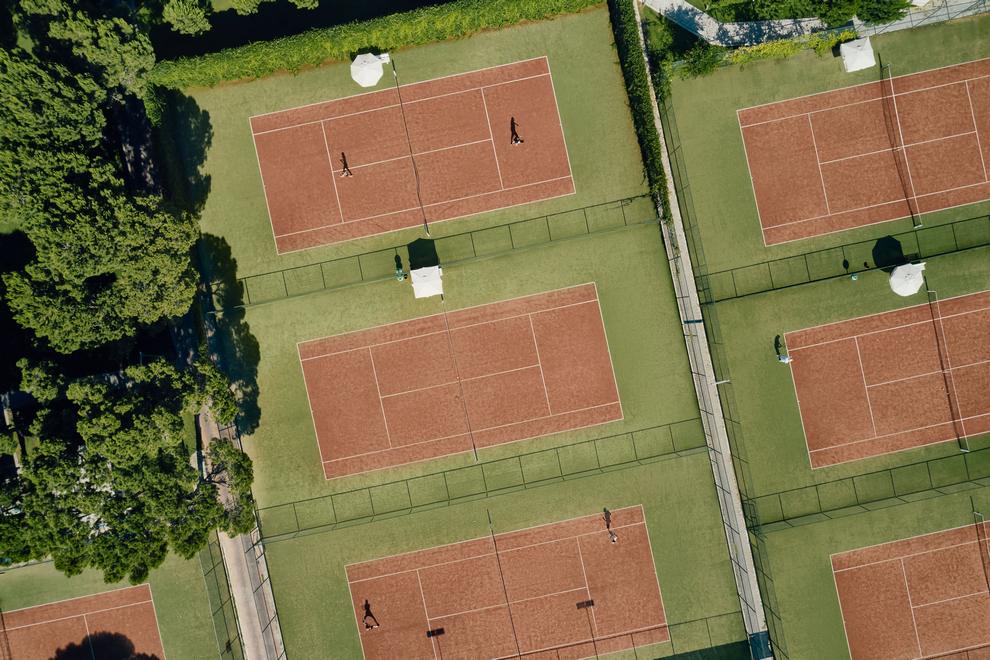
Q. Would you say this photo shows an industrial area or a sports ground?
sports ground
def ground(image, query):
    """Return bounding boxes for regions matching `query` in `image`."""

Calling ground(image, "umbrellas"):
[837,37,876,74]
[410,264,446,301]
[887,261,924,299]
[350,54,386,90]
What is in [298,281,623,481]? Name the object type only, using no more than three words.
tennis court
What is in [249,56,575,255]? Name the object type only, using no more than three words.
tennis court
